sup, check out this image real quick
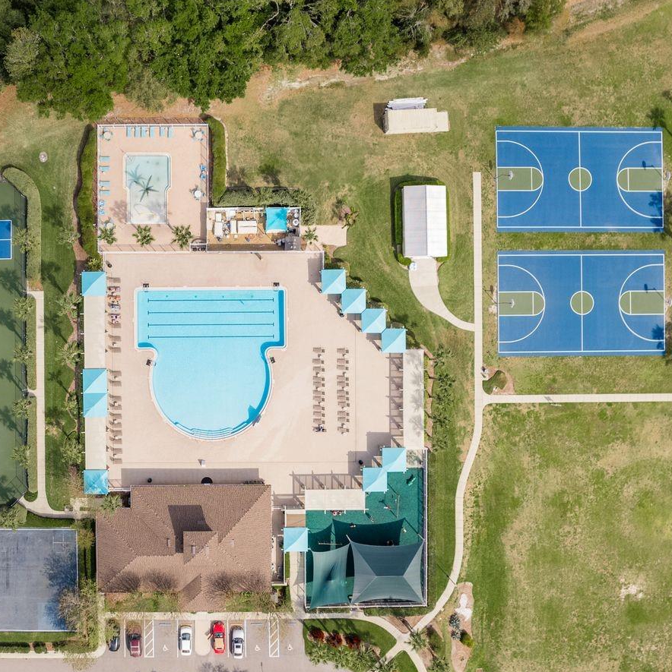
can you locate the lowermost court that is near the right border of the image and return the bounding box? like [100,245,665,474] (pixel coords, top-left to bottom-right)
[497,251,665,356]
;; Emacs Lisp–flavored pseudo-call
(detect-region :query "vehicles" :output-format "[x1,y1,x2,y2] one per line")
[179,626,194,658]
[230,627,245,661]
[107,625,120,655]
[128,627,142,659]
[207,622,227,657]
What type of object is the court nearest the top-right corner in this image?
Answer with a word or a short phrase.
basketball court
